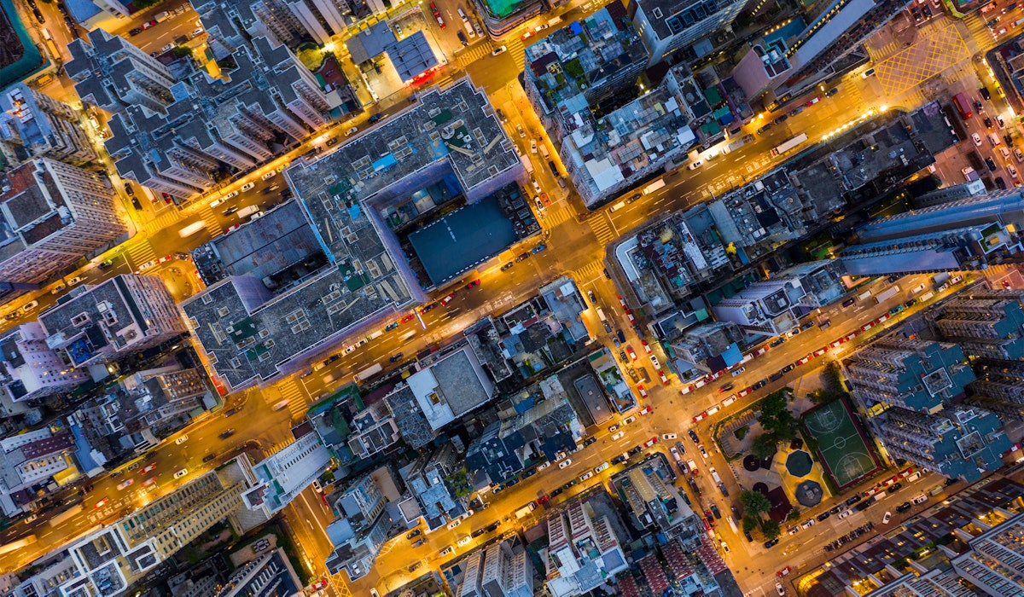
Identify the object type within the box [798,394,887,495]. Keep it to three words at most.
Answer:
basketball court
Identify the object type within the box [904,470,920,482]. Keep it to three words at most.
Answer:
vehicle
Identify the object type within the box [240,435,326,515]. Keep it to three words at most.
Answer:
building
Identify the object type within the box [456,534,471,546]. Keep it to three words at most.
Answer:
vehicle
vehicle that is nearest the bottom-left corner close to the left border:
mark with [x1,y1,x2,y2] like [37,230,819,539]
[1,533,32,554]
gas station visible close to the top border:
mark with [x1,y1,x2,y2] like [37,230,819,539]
[346,20,440,84]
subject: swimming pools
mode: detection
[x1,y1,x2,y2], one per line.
[749,8,812,48]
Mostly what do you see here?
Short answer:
buildings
